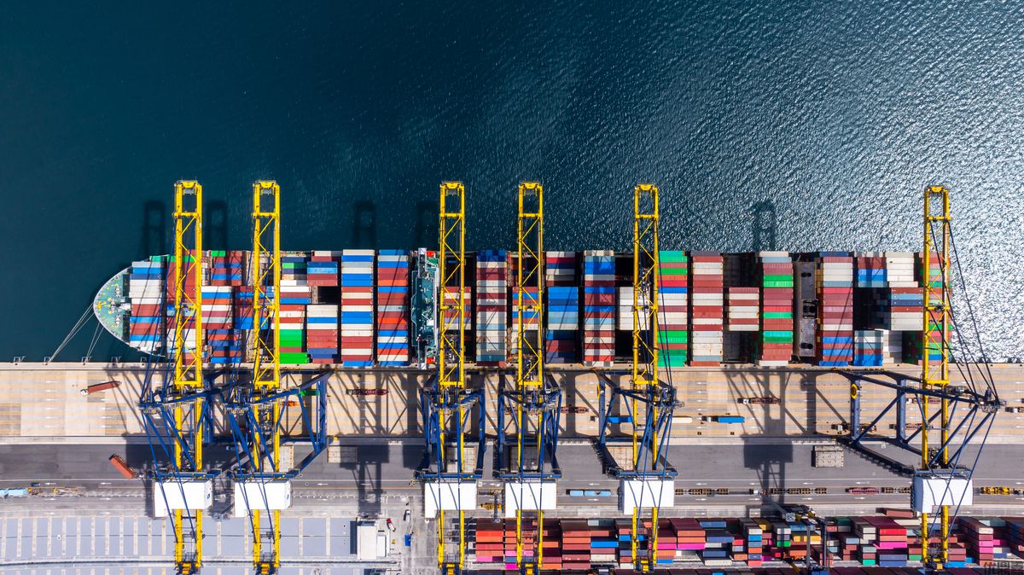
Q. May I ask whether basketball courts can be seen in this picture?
No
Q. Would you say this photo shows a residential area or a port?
port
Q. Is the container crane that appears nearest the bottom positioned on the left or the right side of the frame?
right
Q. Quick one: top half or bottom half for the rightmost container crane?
bottom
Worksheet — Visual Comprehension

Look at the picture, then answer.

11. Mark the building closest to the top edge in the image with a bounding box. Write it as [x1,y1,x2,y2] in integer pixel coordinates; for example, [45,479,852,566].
[357,518,391,559]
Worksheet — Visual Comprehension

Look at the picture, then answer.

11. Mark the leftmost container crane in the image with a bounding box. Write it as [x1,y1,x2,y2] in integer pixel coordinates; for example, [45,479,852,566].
[131,177,274,574]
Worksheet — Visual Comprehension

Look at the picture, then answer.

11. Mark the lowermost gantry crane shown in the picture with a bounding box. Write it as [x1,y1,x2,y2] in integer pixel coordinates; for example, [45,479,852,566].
[776,507,832,575]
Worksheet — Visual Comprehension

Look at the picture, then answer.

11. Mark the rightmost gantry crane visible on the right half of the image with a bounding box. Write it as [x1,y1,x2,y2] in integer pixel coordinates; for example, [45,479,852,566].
[833,182,1014,574]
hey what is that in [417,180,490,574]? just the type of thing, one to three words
container crane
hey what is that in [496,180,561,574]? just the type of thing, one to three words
container crane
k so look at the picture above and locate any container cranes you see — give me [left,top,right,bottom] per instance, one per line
[131,177,274,574]
[595,180,685,574]
[833,182,1014,574]
[776,507,832,575]
[496,180,561,574]
[417,180,490,574]
[219,177,338,574]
